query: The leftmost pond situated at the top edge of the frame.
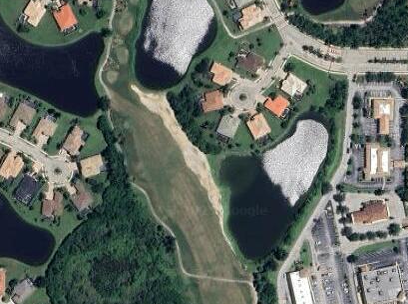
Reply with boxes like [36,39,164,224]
[134,0,217,89]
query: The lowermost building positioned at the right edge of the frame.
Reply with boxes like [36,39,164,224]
[361,266,407,304]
